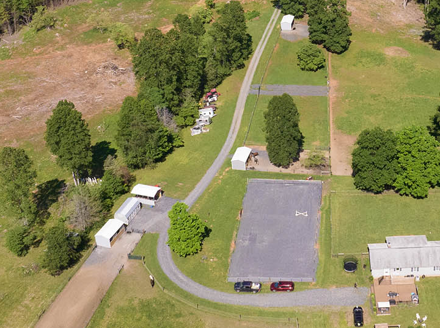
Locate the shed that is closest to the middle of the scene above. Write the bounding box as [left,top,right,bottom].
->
[231,146,251,170]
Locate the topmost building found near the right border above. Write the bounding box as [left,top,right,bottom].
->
[370,231,440,278]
